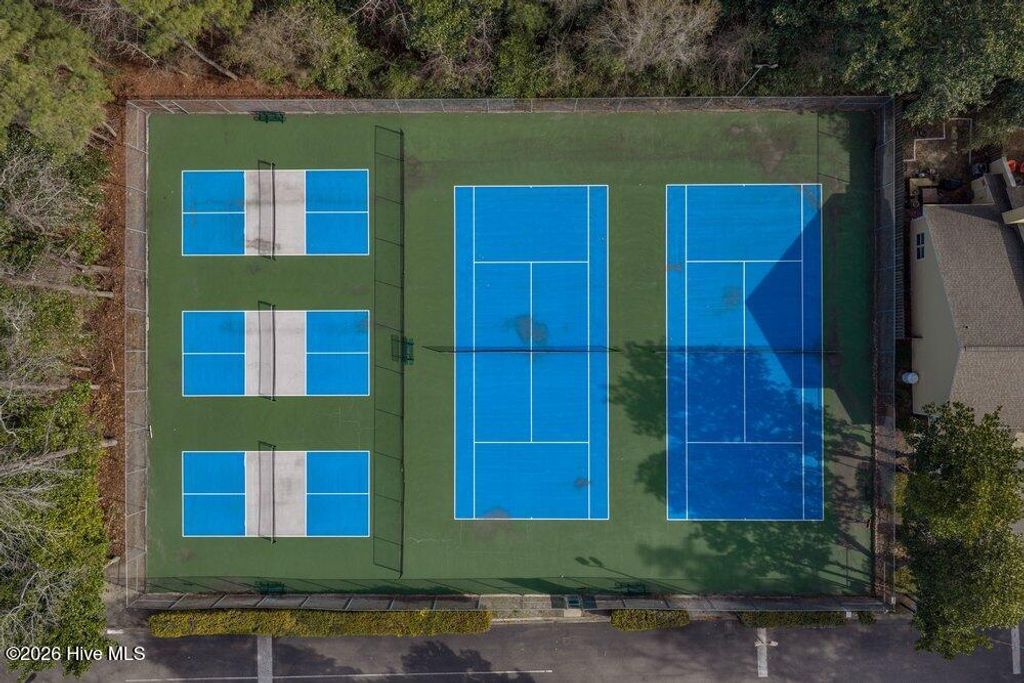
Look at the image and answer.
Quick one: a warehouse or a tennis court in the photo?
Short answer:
tennis court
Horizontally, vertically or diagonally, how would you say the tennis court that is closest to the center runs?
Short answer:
vertically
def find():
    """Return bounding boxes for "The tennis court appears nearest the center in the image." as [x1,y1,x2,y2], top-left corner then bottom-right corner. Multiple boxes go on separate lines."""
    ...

[455,185,609,520]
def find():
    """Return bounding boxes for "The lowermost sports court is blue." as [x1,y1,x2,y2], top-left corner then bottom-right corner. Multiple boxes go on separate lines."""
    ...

[183,451,369,537]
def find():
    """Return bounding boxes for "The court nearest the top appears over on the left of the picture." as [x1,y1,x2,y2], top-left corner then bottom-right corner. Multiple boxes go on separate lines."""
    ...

[183,170,369,256]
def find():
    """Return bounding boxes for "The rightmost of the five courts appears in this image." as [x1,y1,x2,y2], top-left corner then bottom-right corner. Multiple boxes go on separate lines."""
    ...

[667,184,823,521]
